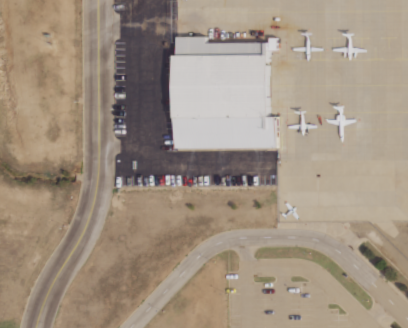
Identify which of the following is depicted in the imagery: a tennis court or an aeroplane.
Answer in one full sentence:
Looking from above, you can make out an aeroplane.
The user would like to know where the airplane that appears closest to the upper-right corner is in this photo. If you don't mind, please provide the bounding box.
[331,32,367,60]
